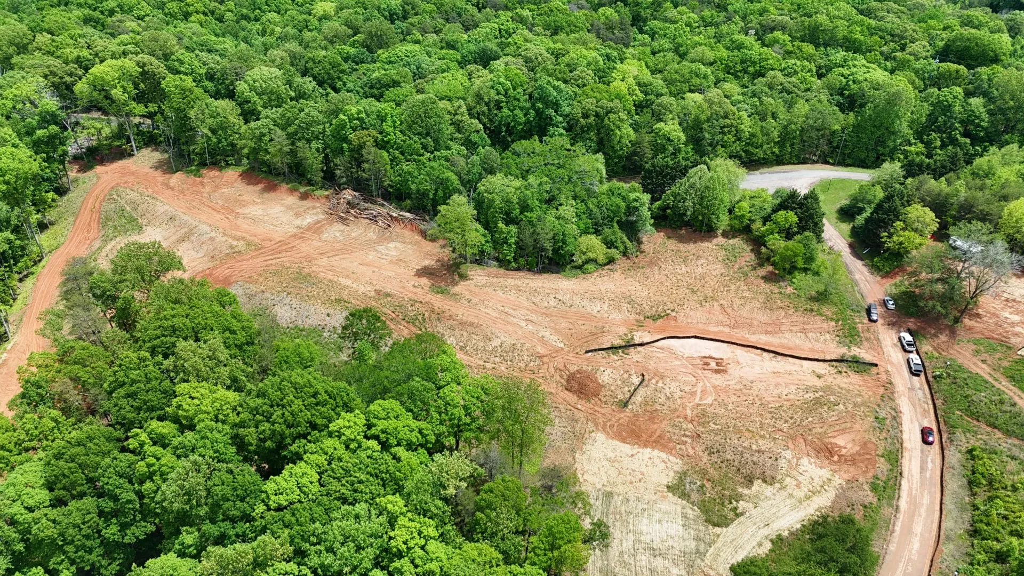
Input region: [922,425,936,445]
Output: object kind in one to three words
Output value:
car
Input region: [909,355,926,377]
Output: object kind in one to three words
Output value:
vehicle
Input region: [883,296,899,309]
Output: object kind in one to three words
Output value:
vehicle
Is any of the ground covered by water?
No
